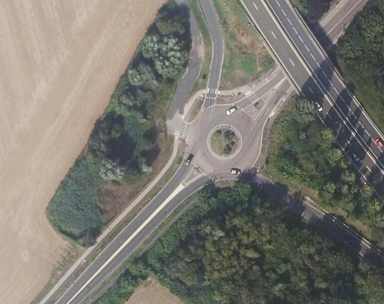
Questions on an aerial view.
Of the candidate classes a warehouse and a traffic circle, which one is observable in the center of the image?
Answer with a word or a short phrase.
traffic circle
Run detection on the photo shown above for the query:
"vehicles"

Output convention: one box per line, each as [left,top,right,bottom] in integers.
[229,168,240,174]
[184,154,194,165]
[374,138,384,148]
[314,102,322,112]
[350,152,360,162]
[226,106,236,115]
